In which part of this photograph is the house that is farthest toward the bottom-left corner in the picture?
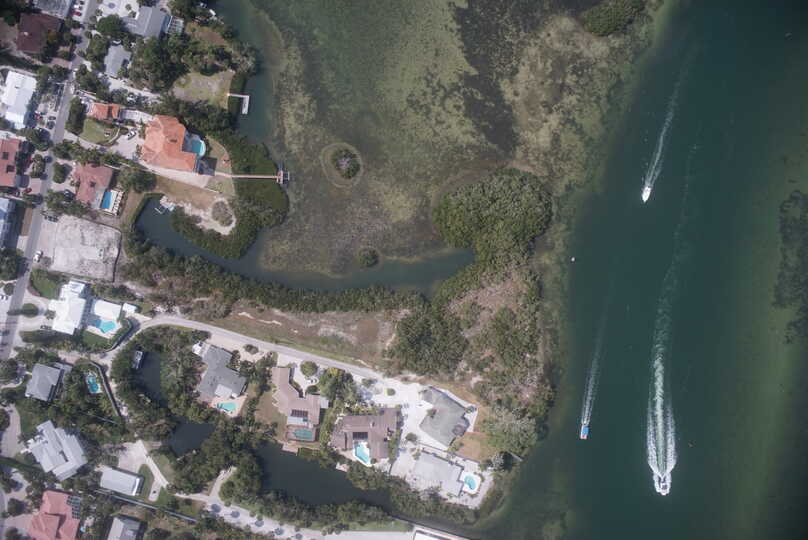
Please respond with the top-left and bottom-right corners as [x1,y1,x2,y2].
[28,489,84,540]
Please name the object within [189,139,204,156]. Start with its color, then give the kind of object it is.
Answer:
blue swimming pool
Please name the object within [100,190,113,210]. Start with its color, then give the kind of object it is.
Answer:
blue swimming pool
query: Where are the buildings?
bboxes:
[84,103,121,122]
[26,420,90,480]
[28,489,84,540]
[421,388,469,446]
[331,407,398,458]
[0,138,23,187]
[48,281,89,335]
[0,71,38,127]
[0,197,16,246]
[109,516,142,540]
[24,363,62,401]
[100,467,142,496]
[200,345,247,397]
[17,13,62,57]
[142,115,197,171]
[413,452,464,497]
[121,6,166,38]
[271,367,320,425]
[76,163,114,205]
[95,300,123,320]
[33,0,77,19]
[105,46,131,78]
